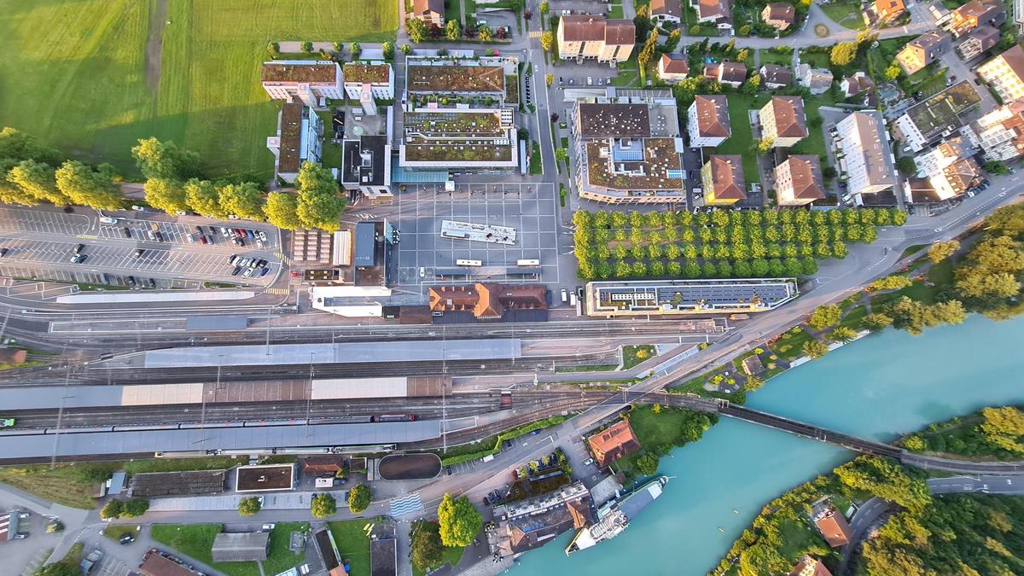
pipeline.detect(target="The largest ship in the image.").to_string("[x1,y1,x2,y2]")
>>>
[566,476,673,554]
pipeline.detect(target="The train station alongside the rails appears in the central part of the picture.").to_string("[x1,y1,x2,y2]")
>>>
[429,283,552,324]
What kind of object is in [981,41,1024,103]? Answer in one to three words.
building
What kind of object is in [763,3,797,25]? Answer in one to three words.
house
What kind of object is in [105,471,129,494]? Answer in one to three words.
shed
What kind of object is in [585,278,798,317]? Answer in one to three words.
building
